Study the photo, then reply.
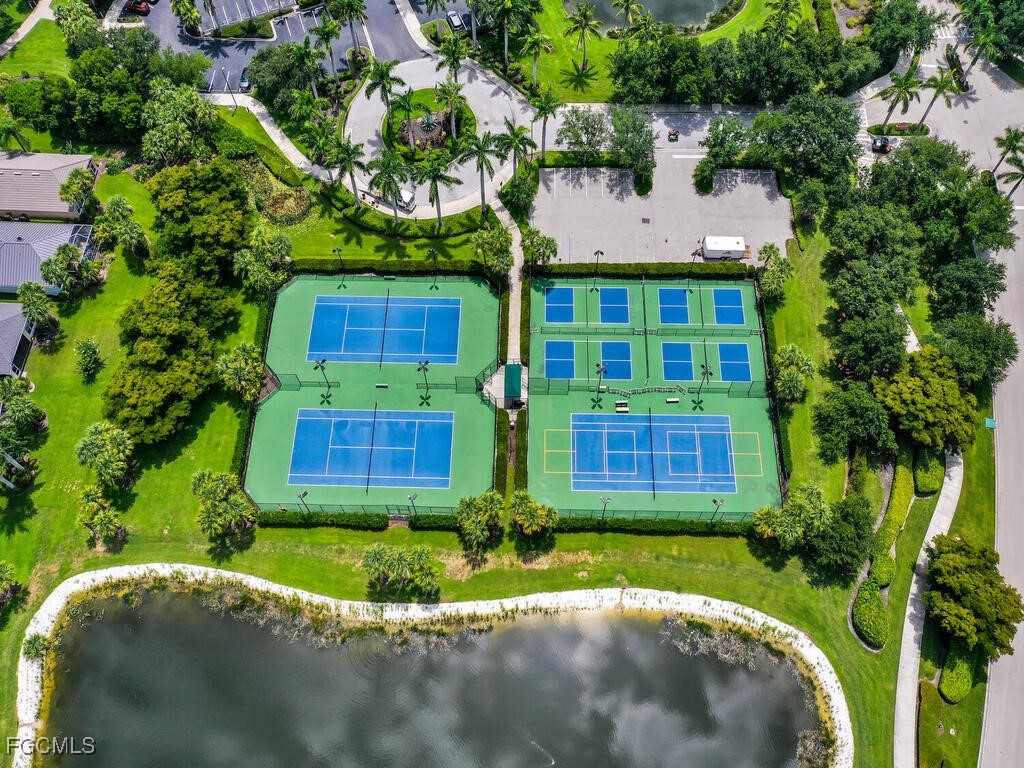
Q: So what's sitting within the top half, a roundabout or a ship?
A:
roundabout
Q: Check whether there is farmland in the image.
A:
No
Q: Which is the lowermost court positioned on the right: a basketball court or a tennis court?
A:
tennis court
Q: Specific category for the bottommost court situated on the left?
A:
tennis court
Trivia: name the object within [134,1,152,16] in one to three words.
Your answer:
car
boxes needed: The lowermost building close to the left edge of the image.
[0,303,44,386]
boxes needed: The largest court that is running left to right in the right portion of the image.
[528,391,781,515]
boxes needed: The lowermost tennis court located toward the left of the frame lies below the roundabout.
[244,387,495,515]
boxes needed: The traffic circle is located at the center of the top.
[381,86,478,166]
